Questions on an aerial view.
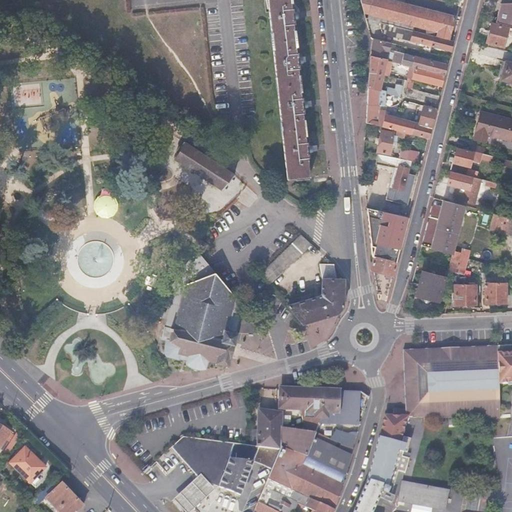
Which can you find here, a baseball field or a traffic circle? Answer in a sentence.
There is a traffic circle in the scene.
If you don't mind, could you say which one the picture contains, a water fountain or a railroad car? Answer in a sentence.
I can see a water fountain in this picture.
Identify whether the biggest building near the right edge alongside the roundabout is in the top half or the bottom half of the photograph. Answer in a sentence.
The biggest building near the right edge alongside the roundabout sits in the bottom half of the picture.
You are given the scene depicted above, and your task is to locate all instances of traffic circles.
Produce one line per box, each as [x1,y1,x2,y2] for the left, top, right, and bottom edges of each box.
[316,296,412,382]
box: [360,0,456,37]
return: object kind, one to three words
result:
building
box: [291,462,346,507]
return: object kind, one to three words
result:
house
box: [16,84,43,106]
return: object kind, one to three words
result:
sports court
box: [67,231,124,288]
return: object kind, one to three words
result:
fountain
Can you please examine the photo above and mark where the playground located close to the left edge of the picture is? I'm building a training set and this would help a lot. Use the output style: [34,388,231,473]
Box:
[10,78,80,149]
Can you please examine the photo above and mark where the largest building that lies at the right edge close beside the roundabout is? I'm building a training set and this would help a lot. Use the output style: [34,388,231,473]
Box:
[404,346,499,418]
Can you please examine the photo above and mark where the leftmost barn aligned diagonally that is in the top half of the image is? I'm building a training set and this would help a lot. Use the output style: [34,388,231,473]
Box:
[176,142,234,190]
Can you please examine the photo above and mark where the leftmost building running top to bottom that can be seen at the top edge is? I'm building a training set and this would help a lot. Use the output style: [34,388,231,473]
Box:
[264,0,318,182]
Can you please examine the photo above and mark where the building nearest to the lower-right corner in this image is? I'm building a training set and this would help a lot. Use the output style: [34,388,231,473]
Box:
[398,480,450,512]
